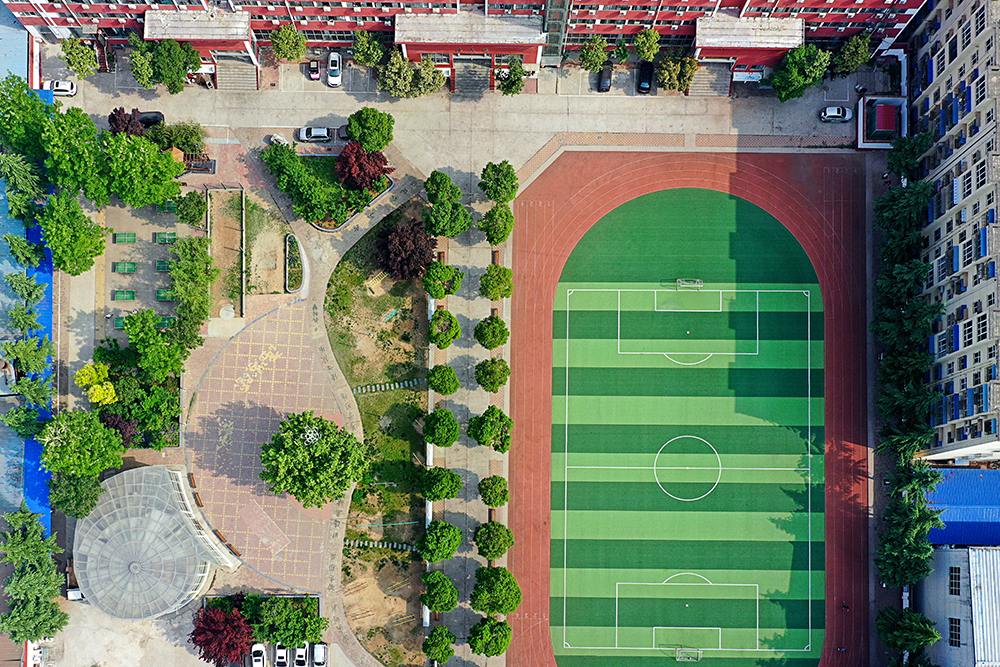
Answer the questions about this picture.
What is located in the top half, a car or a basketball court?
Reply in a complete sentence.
There is a car in the top half.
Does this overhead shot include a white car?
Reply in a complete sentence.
Yes, a white car appears in the view.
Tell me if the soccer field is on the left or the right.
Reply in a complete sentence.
The soccer field is on the right side of the image.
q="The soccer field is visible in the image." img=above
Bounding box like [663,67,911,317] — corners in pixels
[551,188,825,667]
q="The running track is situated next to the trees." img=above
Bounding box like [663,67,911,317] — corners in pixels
[506,151,868,667]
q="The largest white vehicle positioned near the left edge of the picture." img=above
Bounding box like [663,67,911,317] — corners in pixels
[43,79,77,97]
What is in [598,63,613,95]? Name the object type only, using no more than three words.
car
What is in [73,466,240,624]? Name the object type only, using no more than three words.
building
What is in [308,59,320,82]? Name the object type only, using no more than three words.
vehicle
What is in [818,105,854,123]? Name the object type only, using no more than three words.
car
